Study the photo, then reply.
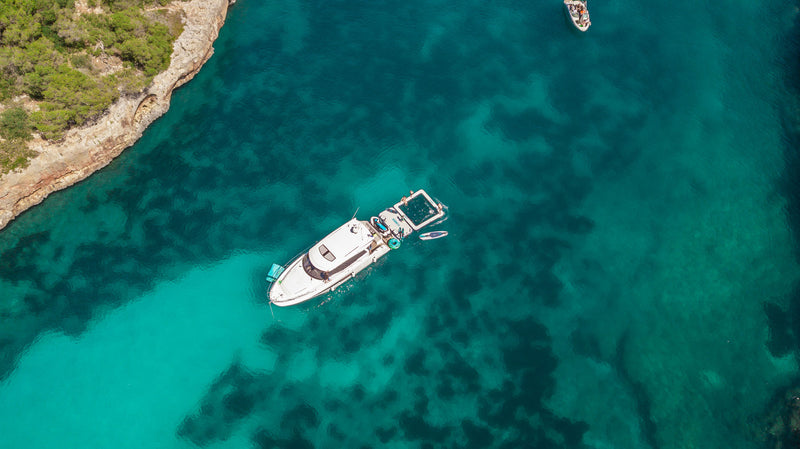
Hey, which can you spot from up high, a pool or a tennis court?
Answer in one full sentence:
There is a pool in the scene.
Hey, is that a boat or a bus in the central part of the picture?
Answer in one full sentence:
It is a boat that can be seen in the central part of the picture.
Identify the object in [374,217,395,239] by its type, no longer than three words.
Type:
boat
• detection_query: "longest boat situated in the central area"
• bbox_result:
[264,208,402,305]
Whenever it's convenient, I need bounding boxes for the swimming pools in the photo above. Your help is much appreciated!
[395,191,443,230]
